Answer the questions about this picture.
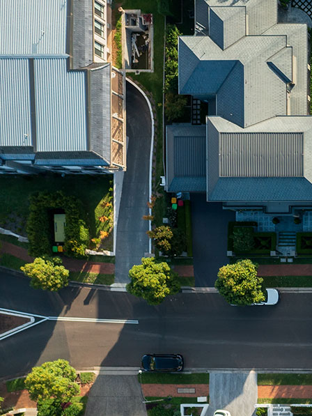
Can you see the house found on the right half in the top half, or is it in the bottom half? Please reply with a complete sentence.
It is in the top half that the house found on the right half appears.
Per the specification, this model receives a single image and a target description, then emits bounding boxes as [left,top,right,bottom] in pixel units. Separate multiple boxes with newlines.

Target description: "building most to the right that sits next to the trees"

[164,0,312,247]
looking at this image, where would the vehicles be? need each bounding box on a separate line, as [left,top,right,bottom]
[248,287,280,306]
[213,408,232,416]
[141,354,186,371]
